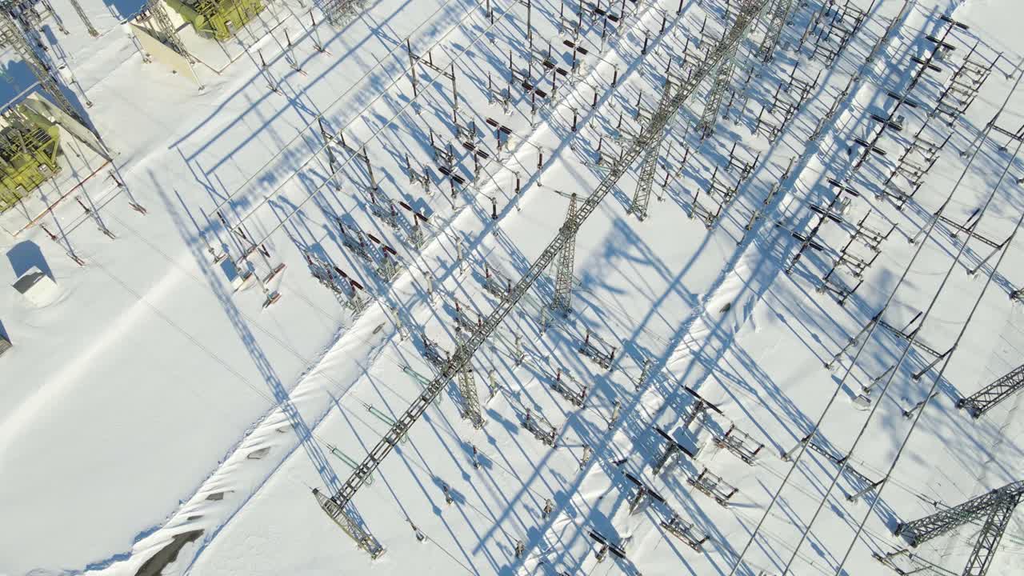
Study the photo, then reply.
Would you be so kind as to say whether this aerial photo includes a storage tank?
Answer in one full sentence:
Yes, there's a storage tank down there.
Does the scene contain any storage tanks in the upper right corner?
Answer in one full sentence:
No, there's no storage tank to be seen in the upper right corner.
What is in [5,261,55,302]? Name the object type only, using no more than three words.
shed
